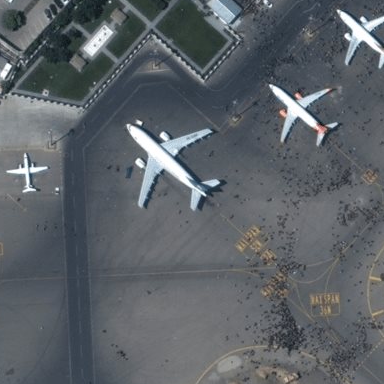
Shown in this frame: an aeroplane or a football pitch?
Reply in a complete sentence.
Looking from above, you can make out an aeroplane.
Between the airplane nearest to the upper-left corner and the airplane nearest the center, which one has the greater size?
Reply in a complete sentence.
Of the two, the airplane nearest the center is larger and the airplane nearest to the upper-left corner is the smaller one.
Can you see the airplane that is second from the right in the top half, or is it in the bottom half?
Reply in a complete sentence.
The airplane that is second from the right sits in the top half of the picture.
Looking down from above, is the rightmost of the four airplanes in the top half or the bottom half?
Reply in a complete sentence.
You can find the rightmost of the four airplanes in the top half.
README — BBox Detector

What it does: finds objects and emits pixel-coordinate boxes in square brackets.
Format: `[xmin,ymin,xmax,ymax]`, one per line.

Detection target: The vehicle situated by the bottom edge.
[283,371,301,383]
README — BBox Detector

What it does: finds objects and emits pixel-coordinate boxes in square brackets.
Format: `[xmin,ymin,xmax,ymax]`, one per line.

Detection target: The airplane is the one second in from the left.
[127,124,220,210]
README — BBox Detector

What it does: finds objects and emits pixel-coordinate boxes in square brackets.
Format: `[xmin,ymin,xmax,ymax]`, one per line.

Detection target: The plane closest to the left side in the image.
[4,153,49,194]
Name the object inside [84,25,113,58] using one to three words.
building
